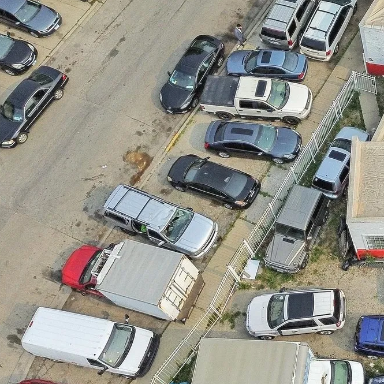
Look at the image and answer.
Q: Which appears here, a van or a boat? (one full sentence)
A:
It is a van that can be seen here.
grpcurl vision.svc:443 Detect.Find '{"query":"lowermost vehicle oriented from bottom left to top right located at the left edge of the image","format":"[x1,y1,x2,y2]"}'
[0,66,72,149]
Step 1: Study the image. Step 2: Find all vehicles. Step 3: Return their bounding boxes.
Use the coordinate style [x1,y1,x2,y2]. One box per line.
[247,286,348,339]
[162,32,228,114]
[0,32,40,80]
[13,302,161,382]
[197,72,314,122]
[257,0,317,49]
[65,235,210,321]
[191,339,367,384]
[310,125,369,207]
[201,119,304,167]
[102,180,214,261]
[352,313,384,361]
[0,0,63,40]
[0,66,72,149]
[226,43,310,83]
[165,156,263,212]
[297,0,359,65]
[260,177,329,280]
